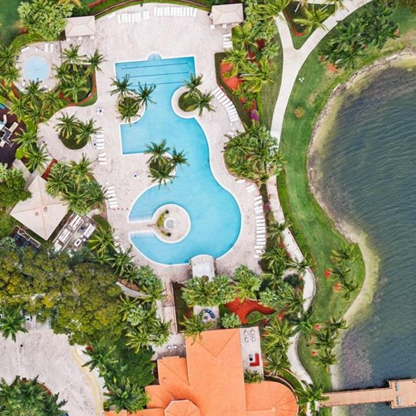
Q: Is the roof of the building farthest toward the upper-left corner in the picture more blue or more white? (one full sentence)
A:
From above, the roof of the building farthest toward the upper-left corner appears white.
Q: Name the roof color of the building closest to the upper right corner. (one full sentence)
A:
From above, the roof of the building closest to the upper right corner looks white.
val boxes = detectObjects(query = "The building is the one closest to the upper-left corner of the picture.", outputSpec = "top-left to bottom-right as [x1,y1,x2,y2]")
[65,16,94,38]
